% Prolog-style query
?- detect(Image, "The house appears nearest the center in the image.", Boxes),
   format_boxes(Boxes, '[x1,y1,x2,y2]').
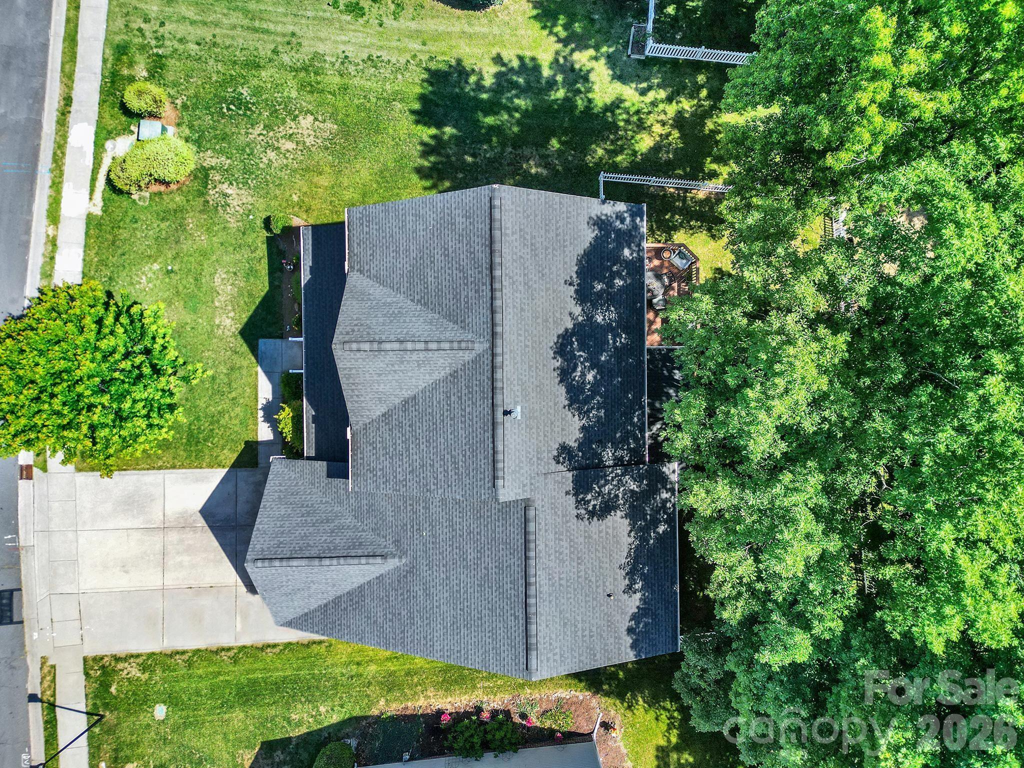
[245,186,706,680]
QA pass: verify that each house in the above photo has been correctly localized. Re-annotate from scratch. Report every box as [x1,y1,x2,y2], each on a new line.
[245,186,706,680]
[358,714,604,768]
